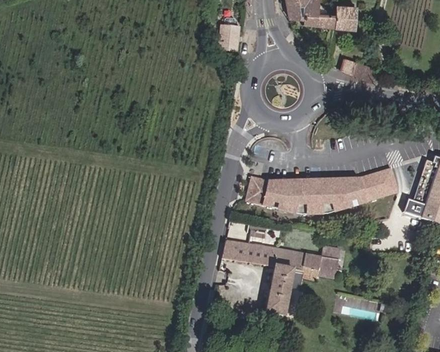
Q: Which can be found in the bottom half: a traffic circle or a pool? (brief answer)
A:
pool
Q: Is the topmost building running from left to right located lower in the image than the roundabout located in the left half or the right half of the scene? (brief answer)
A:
right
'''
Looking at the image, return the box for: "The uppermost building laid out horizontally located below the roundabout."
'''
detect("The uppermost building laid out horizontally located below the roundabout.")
[263,168,398,214]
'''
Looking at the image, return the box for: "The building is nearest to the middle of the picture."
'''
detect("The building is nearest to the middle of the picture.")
[246,174,266,204]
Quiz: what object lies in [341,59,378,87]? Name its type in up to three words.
building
